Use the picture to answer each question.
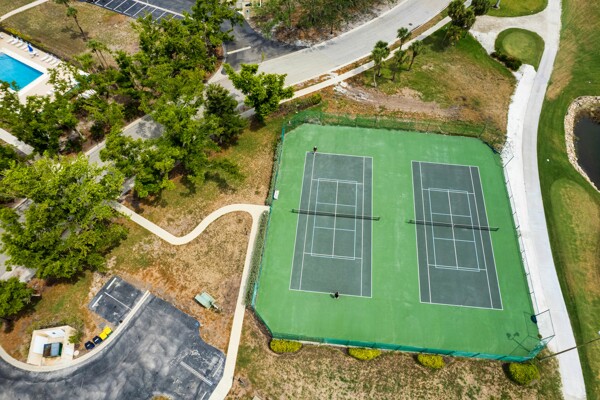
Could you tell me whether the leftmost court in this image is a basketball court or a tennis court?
tennis court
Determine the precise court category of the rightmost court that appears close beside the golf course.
tennis court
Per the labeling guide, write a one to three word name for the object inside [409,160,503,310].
tennis court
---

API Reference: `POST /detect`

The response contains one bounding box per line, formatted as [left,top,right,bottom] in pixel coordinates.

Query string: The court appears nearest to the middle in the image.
[290,151,380,298]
